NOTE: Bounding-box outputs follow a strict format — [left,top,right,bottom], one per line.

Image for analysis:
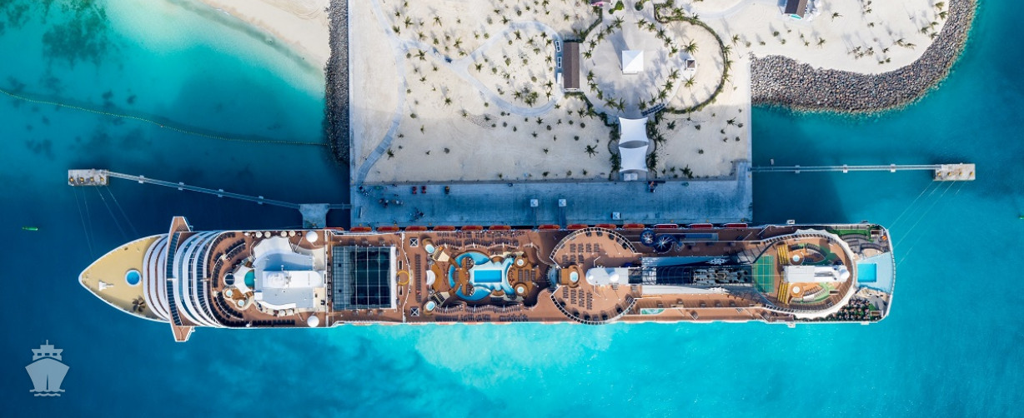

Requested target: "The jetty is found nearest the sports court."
[351,161,750,226]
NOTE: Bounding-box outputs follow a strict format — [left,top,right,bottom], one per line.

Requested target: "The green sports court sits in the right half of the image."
[752,256,777,294]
